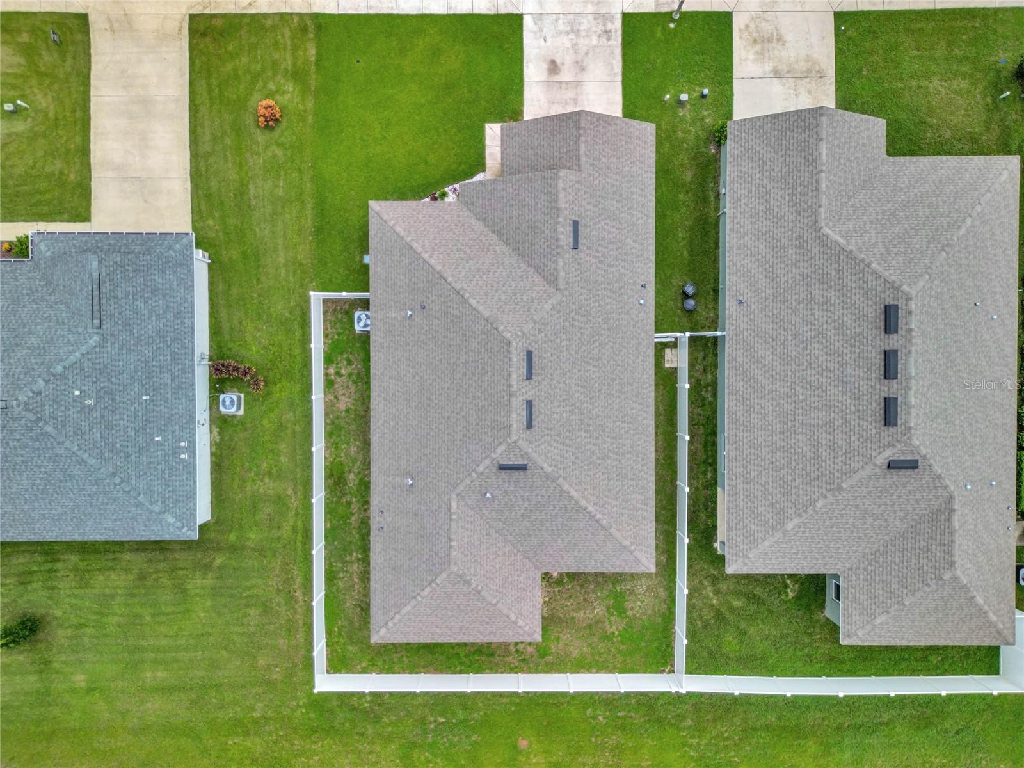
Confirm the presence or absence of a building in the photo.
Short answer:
Yes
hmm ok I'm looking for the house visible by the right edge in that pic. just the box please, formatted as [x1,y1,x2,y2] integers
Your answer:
[712,105,1021,645]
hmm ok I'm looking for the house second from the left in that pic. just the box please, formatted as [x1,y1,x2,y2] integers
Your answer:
[369,110,656,643]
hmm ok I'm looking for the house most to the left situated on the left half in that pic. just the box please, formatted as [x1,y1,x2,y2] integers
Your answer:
[0,229,229,541]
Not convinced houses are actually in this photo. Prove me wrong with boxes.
[369,110,656,643]
[0,229,229,541]
[712,105,1021,645]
